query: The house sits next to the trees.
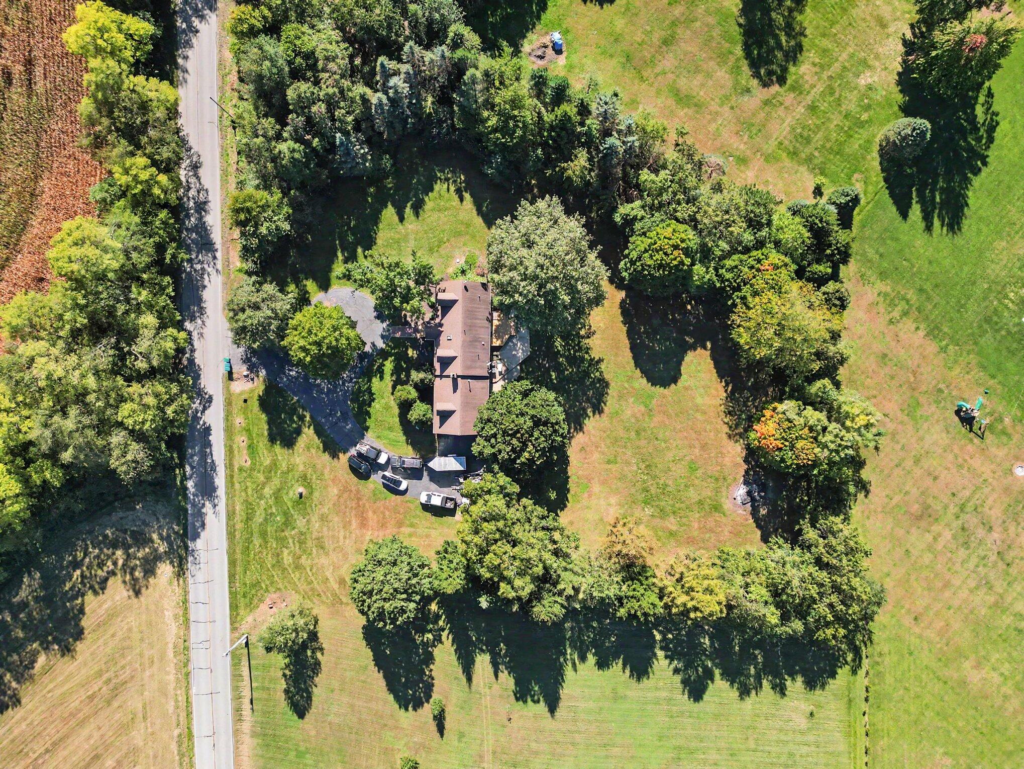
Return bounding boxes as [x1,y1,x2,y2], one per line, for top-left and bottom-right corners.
[425,280,491,434]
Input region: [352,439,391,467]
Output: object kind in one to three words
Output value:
truck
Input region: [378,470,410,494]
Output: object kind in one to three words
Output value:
car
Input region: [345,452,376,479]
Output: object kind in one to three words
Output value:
vehicle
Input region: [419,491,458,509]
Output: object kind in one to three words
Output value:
vehicle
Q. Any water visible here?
No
